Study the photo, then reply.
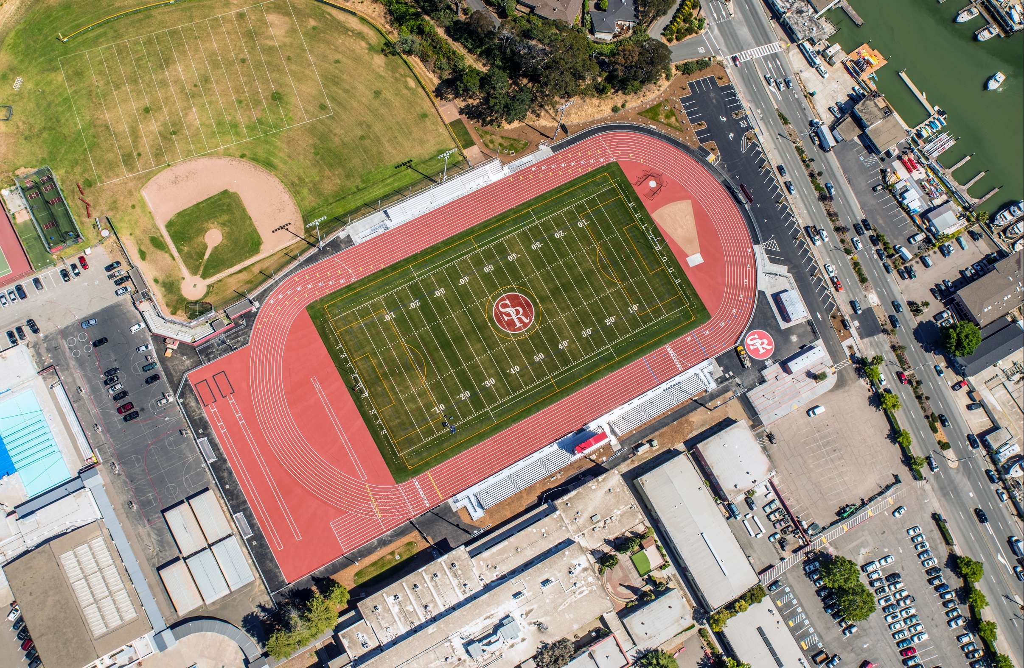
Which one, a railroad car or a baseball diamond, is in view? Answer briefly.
baseball diamond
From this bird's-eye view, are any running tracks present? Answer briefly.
Yes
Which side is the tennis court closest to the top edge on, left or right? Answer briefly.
left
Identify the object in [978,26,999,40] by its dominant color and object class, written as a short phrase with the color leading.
white boat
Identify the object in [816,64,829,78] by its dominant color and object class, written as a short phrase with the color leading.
white vehicle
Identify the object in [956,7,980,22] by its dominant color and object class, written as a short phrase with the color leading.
white boat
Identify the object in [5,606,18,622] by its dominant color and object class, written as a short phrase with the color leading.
white vehicle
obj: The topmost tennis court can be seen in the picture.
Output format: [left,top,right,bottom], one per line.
[0,203,34,288]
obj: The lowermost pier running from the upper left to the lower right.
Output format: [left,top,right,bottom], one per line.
[929,156,980,206]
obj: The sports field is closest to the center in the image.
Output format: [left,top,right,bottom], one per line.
[305,160,713,487]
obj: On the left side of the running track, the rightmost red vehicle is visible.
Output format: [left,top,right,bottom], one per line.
[115,402,136,414]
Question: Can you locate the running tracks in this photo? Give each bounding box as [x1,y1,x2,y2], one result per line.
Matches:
[187,136,754,586]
